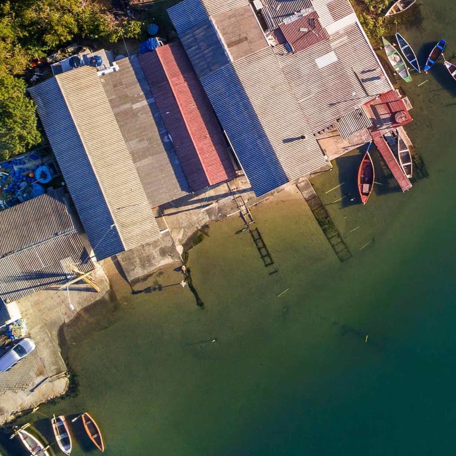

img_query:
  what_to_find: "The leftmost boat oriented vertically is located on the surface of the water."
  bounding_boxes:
[52,415,72,455]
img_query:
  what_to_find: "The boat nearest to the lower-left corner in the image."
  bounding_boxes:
[19,429,50,456]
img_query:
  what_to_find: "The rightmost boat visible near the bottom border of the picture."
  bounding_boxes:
[82,412,105,452]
